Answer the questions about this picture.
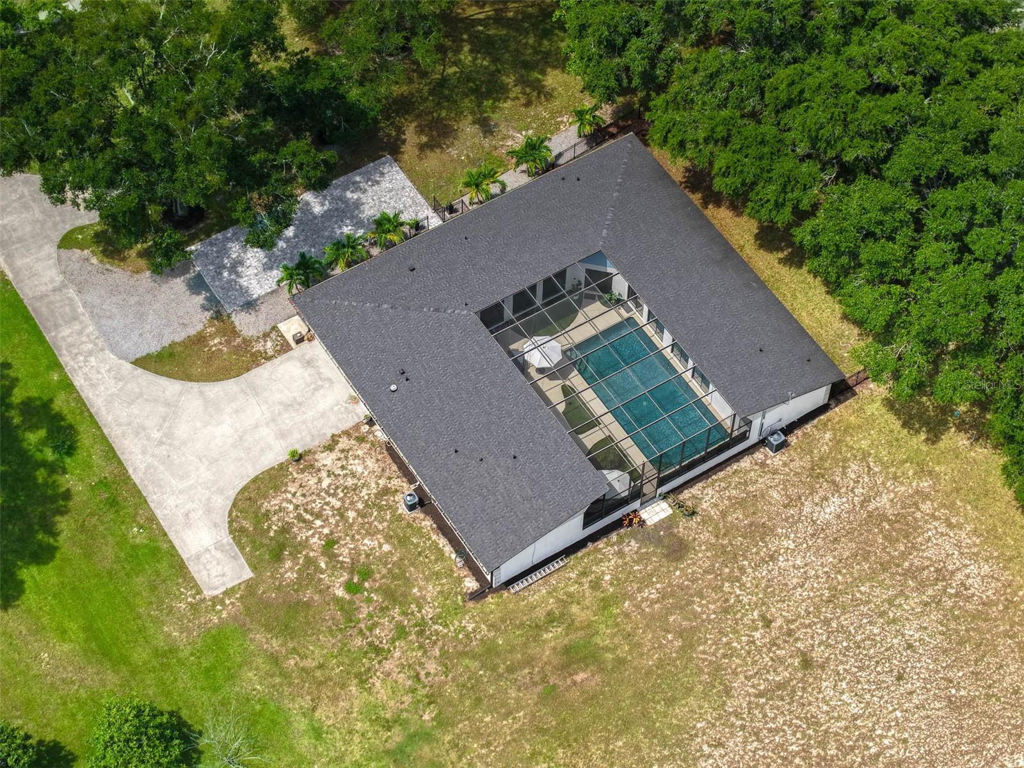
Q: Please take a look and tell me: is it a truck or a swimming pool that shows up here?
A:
swimming pool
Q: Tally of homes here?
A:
1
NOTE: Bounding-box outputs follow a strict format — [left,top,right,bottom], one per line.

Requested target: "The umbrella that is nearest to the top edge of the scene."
[522,337,563,372]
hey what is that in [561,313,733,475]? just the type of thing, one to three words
swimming pool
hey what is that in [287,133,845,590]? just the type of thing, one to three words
house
